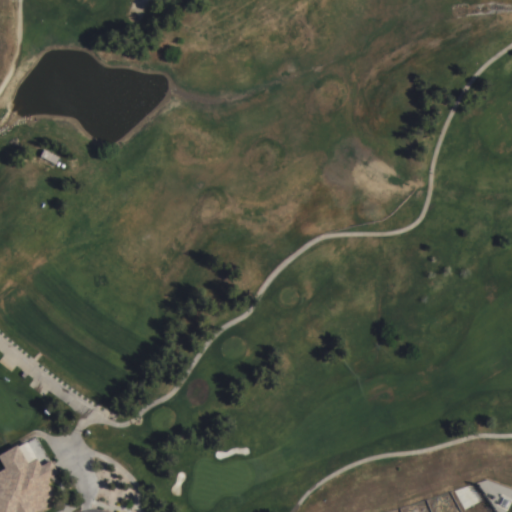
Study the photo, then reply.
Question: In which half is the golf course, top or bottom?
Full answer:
The golf course is in the bottom half of the image.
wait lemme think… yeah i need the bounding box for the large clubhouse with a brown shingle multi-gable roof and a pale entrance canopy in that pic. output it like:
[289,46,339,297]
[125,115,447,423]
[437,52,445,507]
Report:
[0,438,54,512]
